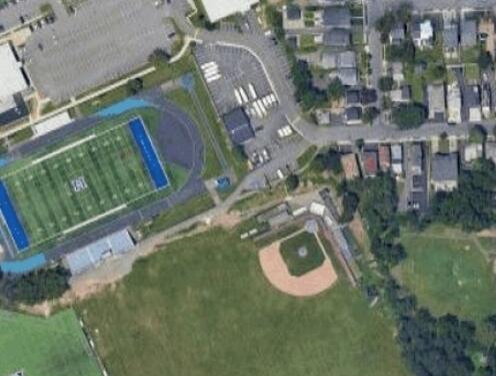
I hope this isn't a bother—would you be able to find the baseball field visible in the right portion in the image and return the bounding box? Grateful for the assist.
[259,219,337,296]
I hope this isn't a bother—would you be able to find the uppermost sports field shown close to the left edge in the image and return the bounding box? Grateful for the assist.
[0,117,171,254]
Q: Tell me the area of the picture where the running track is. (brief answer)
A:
left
